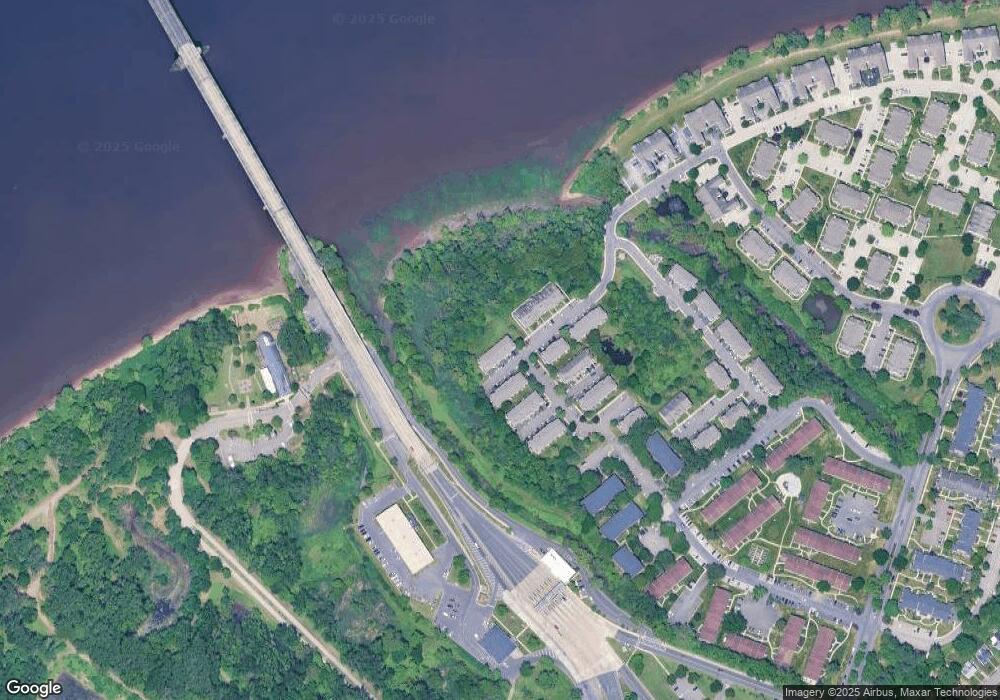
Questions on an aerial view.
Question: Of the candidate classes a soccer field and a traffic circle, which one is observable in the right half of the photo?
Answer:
traffic circle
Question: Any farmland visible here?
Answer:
No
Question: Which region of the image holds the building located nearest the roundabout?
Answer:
right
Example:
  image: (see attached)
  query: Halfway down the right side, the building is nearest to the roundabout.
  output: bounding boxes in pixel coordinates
[883,334,918,379]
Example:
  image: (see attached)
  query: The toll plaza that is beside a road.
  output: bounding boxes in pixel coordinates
[501,562,626,682]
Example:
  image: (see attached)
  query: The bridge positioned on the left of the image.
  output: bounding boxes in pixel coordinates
[149,0,441,474]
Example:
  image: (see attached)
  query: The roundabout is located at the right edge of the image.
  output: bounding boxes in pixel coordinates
[919,277,997,356]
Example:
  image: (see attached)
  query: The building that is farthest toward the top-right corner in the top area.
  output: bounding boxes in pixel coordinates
[962,26,1000,67]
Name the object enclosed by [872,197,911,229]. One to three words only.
building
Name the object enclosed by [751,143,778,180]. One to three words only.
building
